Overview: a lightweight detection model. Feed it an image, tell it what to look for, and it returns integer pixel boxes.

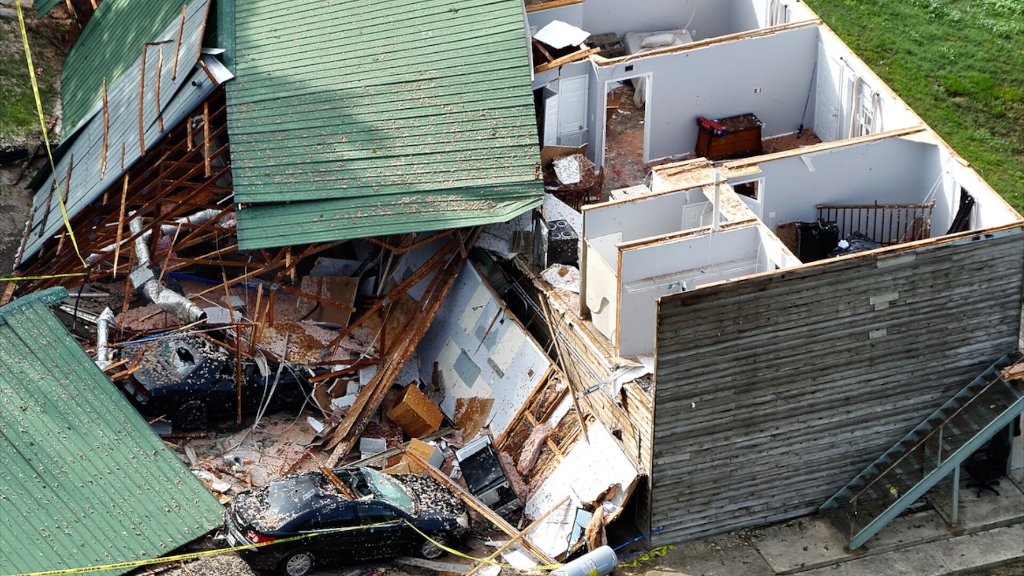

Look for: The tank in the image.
[535,544,614,576]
